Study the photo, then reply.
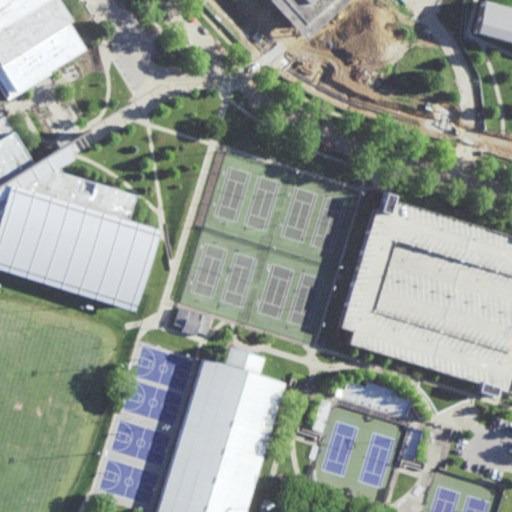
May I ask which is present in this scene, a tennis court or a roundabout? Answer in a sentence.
The image shows a tennis court.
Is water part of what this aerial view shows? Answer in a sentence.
No, water can't be seen anywhere here.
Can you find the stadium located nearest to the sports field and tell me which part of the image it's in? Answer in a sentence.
The stadium located nearest to the sports field is located in the left region of the scene.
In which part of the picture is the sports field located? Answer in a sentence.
The sports field appears toward the bottom left of the photo.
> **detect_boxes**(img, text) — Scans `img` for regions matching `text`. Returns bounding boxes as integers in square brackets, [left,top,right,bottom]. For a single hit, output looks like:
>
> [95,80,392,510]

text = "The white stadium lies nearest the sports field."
[0,188,160,312]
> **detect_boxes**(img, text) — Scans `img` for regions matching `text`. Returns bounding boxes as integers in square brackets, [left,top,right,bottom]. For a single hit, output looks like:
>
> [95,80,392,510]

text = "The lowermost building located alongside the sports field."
[155,360,287,512]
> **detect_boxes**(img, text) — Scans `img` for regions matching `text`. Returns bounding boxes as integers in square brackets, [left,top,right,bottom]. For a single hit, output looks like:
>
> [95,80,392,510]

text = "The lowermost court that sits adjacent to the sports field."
[100,460,160,504]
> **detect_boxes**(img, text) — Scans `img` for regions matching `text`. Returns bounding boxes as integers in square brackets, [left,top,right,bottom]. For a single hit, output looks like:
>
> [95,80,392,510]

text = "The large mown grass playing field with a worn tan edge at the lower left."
[0,291,115,512]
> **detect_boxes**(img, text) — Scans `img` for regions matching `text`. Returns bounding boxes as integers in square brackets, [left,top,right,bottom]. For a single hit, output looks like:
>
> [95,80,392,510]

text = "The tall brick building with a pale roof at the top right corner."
[473,0,512,46]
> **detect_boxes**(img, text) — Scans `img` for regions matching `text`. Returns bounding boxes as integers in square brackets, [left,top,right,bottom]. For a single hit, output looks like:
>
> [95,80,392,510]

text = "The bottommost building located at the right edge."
[338,192,512,400]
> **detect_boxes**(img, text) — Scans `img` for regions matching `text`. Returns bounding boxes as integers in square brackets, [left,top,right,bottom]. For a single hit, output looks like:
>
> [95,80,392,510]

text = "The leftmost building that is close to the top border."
[0,0,88,102]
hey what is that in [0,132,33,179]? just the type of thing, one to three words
building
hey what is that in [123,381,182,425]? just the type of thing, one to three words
basketball court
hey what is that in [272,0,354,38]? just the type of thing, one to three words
building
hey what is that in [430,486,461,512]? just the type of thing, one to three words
tennis court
